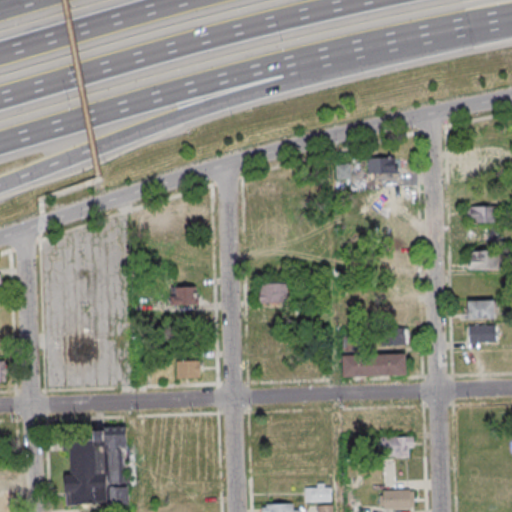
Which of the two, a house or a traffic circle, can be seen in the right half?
house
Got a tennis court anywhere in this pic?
No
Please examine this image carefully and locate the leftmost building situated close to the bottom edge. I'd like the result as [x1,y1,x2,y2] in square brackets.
[63,431,106,506]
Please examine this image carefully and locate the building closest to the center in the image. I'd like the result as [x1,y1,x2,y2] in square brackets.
[260,284,288,307]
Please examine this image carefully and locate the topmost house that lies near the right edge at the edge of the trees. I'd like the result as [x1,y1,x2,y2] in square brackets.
[469,206,494,223]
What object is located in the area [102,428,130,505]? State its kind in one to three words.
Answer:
building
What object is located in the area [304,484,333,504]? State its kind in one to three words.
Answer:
house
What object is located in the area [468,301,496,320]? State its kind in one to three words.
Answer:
house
